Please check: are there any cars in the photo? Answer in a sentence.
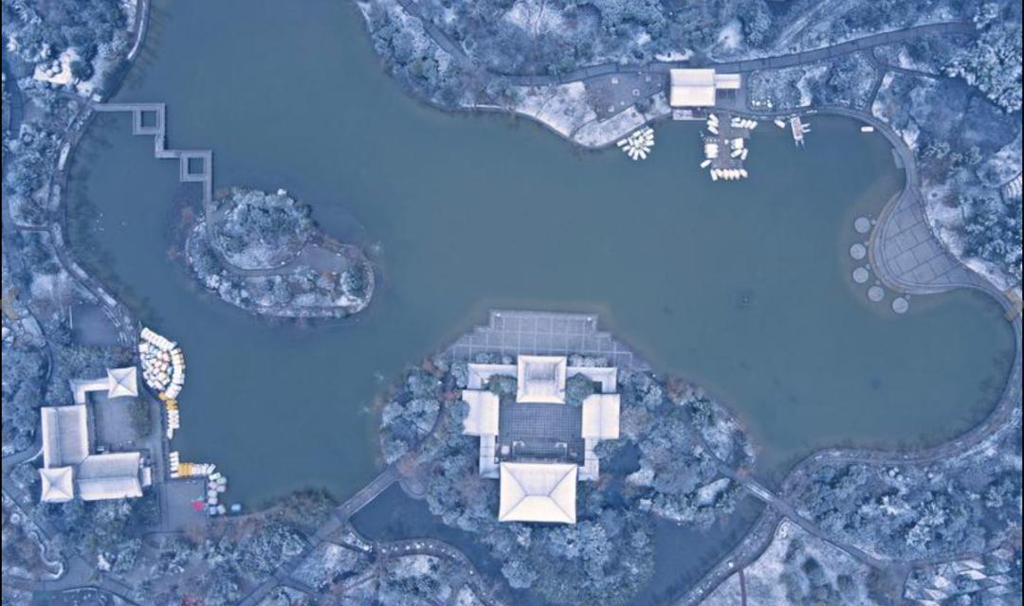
No, I find no car anywhere in the image.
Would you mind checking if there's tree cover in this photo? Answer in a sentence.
Yes, some tree cover is visible.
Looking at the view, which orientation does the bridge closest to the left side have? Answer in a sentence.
From this overhead view, the bridge closest to the left side appears to run diagonally.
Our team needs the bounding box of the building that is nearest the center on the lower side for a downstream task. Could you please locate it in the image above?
[516,355,568,404]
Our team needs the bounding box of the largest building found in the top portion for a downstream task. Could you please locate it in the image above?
[670,69,717,106]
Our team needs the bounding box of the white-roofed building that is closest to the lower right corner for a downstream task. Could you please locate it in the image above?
[582,394,620,440]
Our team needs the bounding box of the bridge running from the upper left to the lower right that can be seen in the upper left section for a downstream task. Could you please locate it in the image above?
[91,103,213,207]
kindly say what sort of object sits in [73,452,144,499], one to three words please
building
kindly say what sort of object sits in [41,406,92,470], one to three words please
building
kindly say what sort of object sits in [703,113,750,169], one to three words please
pier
